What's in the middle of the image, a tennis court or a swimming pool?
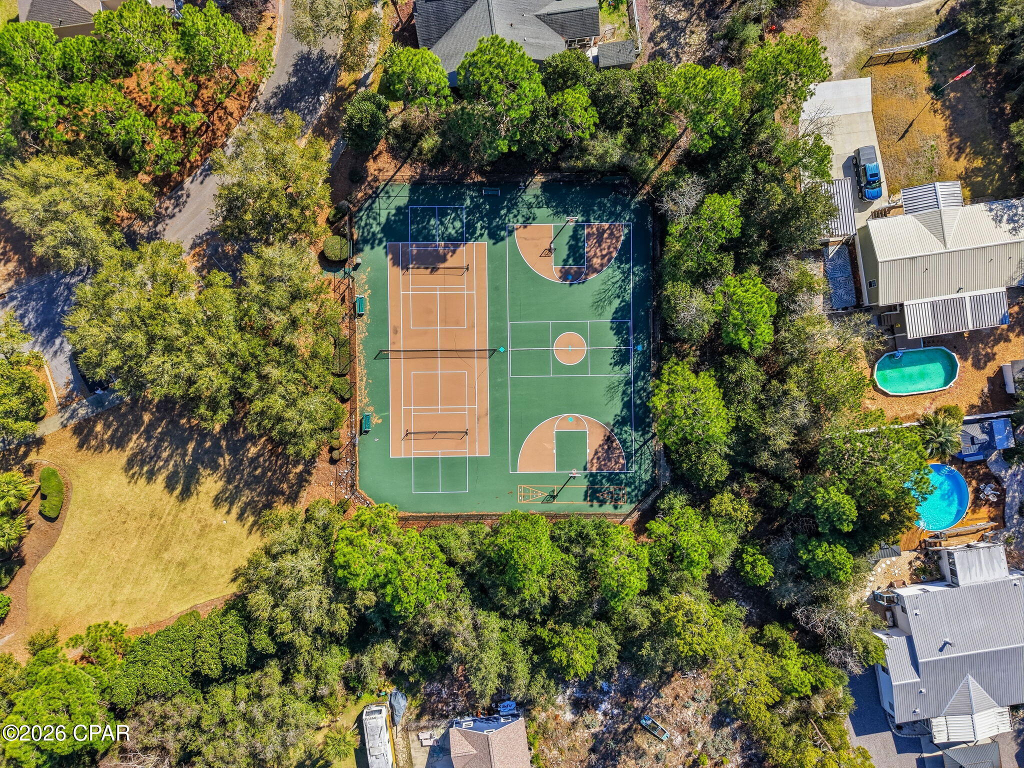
tennis court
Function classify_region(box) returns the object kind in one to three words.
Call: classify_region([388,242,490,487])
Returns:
tennis court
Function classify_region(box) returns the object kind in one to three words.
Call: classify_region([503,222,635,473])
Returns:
basketball court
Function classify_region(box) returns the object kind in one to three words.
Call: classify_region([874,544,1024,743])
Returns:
house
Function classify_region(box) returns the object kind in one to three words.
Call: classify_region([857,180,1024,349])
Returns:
house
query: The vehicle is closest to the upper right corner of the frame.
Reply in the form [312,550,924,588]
[854,147,884,204]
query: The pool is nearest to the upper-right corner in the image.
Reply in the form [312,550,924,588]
[868,346,960,395]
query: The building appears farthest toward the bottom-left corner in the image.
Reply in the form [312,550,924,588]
[449,712,528,768]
